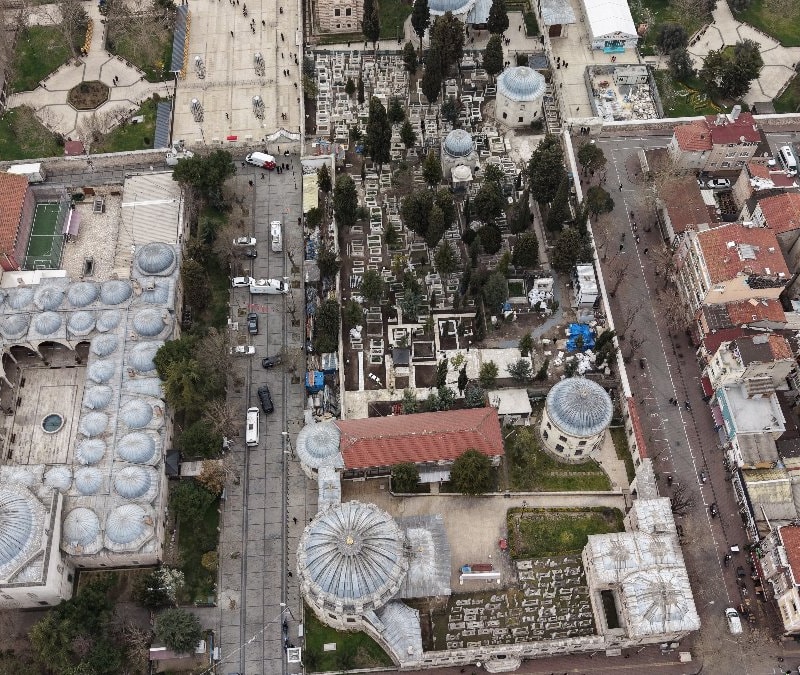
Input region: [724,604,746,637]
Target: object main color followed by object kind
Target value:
white car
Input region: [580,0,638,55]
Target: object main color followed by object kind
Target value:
white tent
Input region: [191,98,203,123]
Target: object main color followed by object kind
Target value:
gray umbrella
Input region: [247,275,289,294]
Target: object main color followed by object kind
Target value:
white vehicle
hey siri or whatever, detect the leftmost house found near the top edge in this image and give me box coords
[310,0,373,35]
